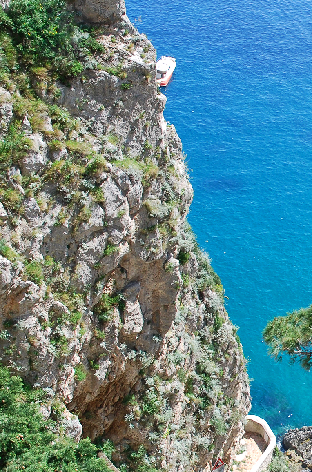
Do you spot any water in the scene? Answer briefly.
Yes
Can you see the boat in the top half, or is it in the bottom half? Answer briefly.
top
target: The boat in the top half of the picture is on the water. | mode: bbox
[150,49,174,85]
